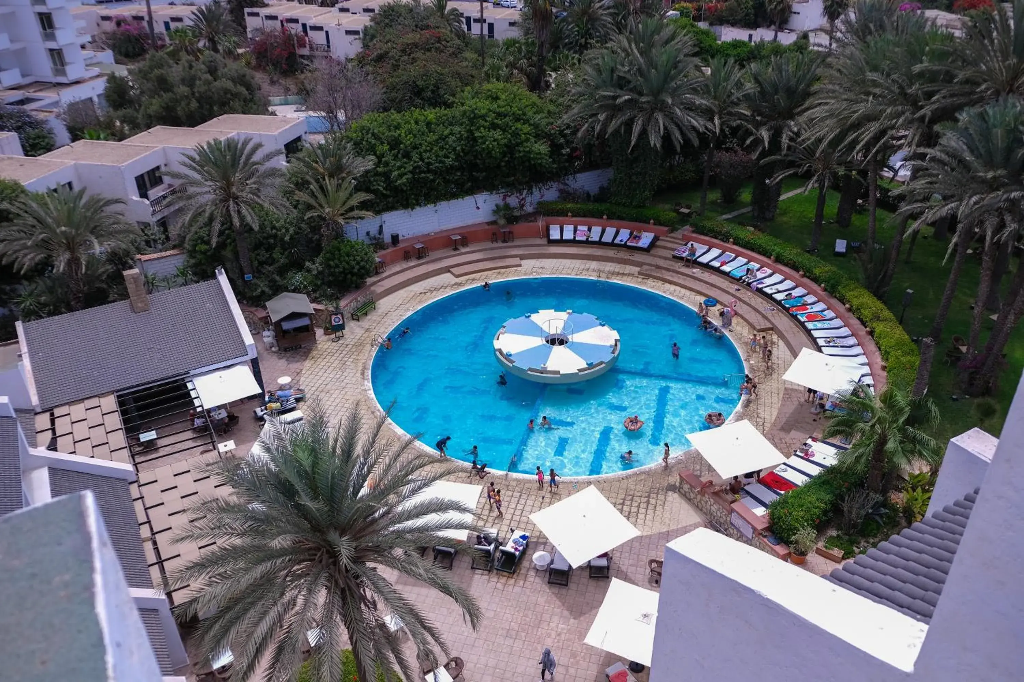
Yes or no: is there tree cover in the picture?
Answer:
Yes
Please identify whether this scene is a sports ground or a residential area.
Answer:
residential area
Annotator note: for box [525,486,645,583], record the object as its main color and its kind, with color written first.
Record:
white umbrella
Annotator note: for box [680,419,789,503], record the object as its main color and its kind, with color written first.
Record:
white umbrella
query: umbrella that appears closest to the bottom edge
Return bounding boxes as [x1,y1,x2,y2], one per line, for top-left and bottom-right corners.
[569,573,661,682]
